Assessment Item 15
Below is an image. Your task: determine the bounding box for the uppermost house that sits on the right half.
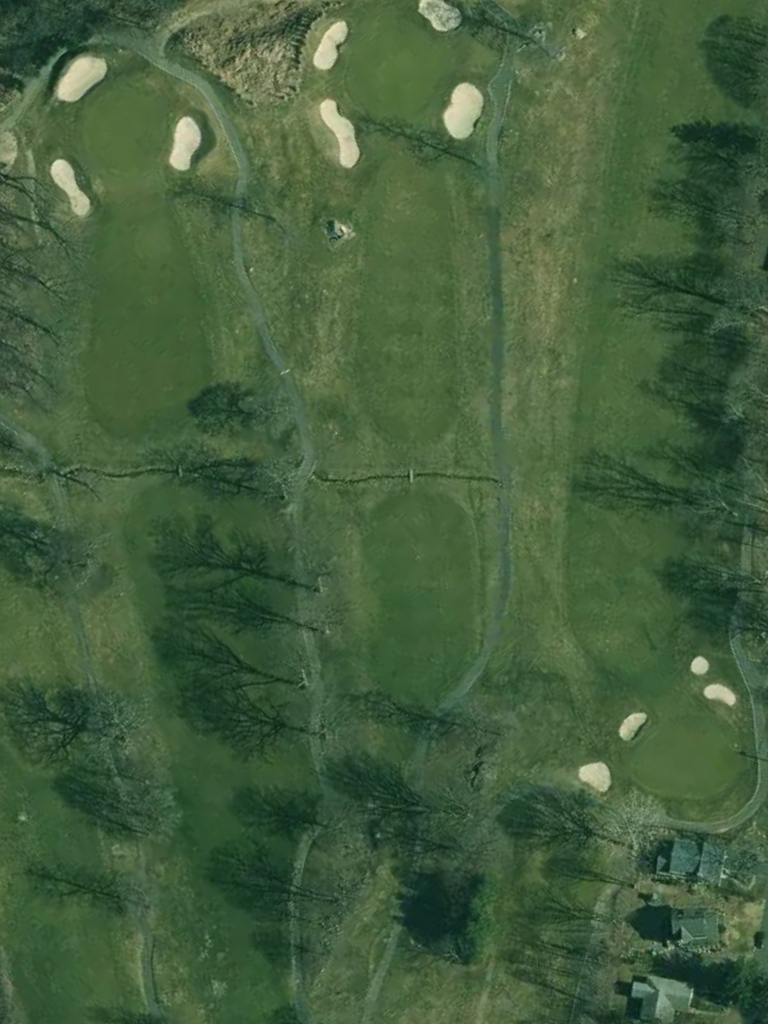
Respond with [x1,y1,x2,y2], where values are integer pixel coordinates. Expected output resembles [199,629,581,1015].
[658,839,726,884]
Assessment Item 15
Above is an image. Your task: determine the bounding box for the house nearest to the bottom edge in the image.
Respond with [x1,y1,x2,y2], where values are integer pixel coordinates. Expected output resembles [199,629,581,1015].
[625,975,693,1024]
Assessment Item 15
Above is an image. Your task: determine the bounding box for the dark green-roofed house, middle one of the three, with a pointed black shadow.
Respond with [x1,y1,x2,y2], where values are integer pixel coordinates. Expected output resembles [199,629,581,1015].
[670,905,723,952]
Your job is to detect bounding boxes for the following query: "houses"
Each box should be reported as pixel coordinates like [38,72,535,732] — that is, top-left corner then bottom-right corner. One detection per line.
[670,905,723,952]
[658,839,726,884]
[625,975,693,1024]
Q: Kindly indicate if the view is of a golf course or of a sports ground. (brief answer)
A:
golf course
